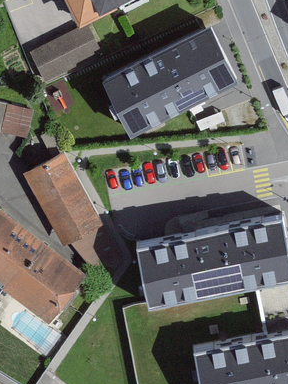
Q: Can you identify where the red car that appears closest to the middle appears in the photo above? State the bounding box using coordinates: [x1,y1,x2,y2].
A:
[143,162,155,183]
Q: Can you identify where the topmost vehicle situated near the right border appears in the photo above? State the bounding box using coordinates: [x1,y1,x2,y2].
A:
[269,84,288,119]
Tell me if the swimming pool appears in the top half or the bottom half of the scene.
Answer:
bottom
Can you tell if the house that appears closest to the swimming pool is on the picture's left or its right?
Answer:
left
